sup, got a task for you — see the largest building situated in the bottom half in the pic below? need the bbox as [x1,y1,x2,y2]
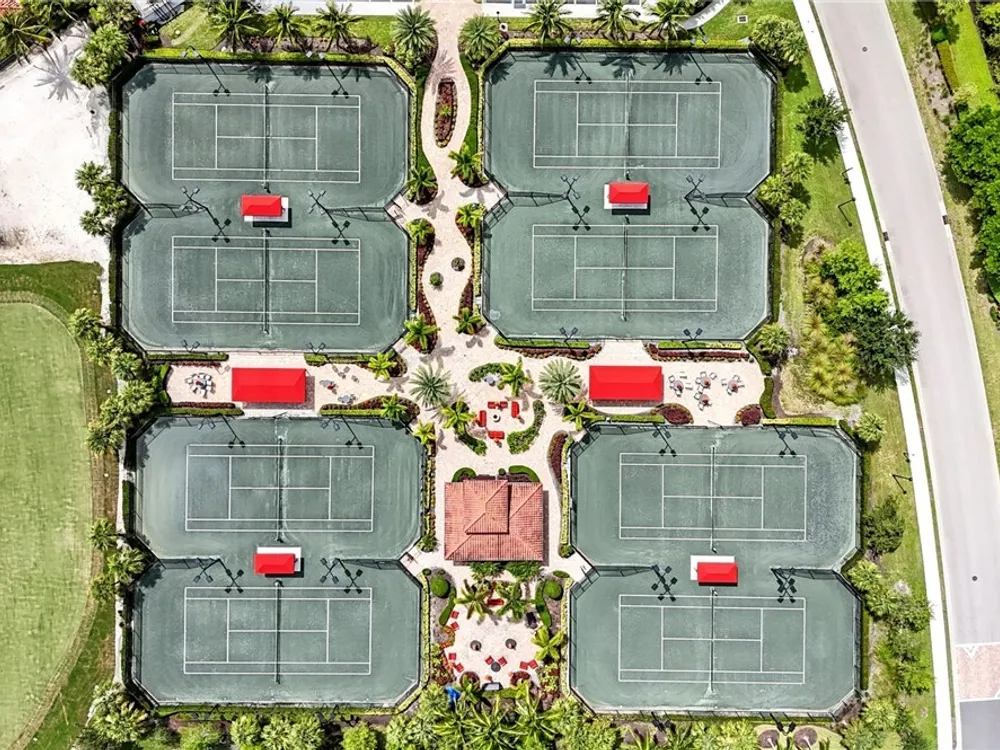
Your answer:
[444,479,544,562]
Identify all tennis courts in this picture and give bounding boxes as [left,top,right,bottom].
[572,425,855,569]
[123,64,407,208]
[484,192,769,341]
[485,53,770,197]
[123,207,407,352]
[135,560,421,706]
[571,564,854,713]
[137,419,421,562]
